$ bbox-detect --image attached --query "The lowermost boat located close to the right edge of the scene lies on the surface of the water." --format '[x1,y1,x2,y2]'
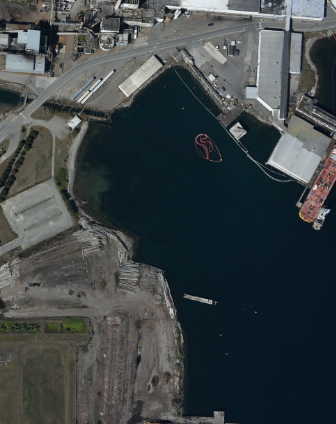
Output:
[313,209,327,230]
